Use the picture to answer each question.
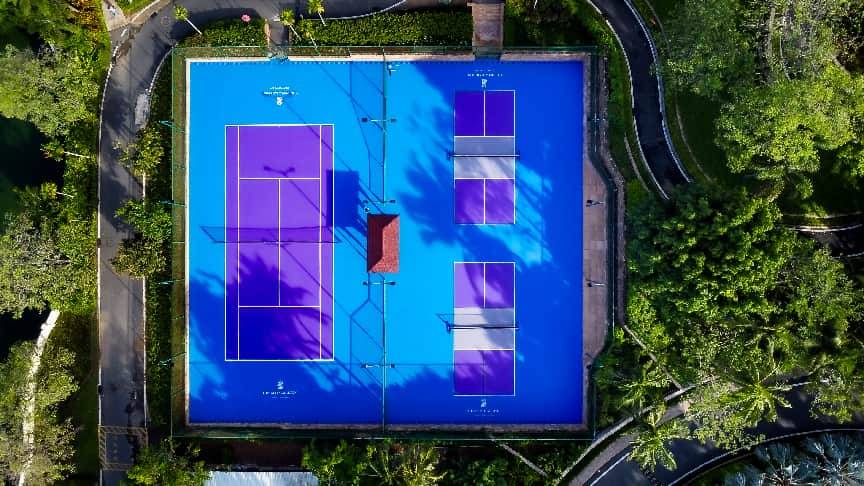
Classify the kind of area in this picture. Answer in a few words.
sports ground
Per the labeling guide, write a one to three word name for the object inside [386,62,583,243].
sports court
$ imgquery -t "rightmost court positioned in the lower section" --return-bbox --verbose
[386,243,583,424]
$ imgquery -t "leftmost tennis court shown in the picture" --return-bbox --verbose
[189,62,386,424]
